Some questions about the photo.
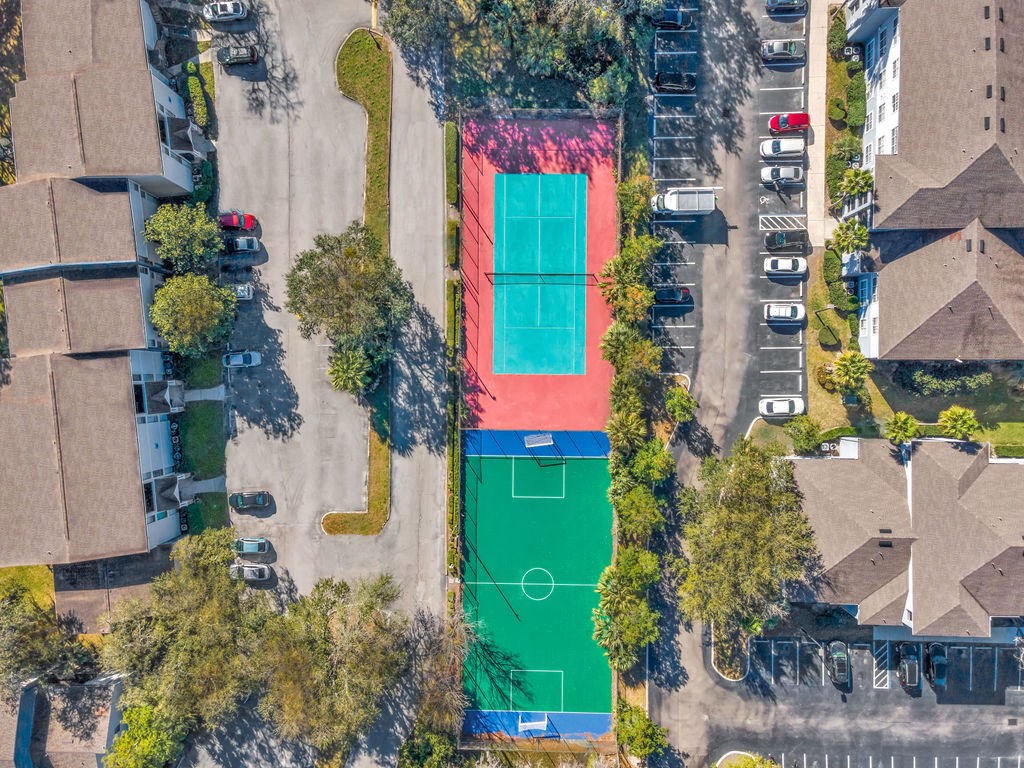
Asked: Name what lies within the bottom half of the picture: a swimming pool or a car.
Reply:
car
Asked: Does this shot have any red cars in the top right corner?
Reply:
Yes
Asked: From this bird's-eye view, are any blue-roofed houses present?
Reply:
No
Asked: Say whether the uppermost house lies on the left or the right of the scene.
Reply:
left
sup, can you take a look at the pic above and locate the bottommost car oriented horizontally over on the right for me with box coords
[760,397,801,417]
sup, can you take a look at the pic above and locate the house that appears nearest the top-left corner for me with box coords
[23,0,159,82]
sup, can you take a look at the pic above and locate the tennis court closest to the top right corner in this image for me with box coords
[461,108,616,431]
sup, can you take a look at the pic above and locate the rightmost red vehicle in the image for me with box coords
[768,112,811,134]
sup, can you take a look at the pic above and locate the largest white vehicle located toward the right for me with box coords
[652,185,725,213]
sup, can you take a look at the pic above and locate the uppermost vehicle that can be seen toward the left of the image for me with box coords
[204,0,247,22]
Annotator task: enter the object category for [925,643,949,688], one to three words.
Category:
car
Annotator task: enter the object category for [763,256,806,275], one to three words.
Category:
car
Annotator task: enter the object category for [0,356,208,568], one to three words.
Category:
house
